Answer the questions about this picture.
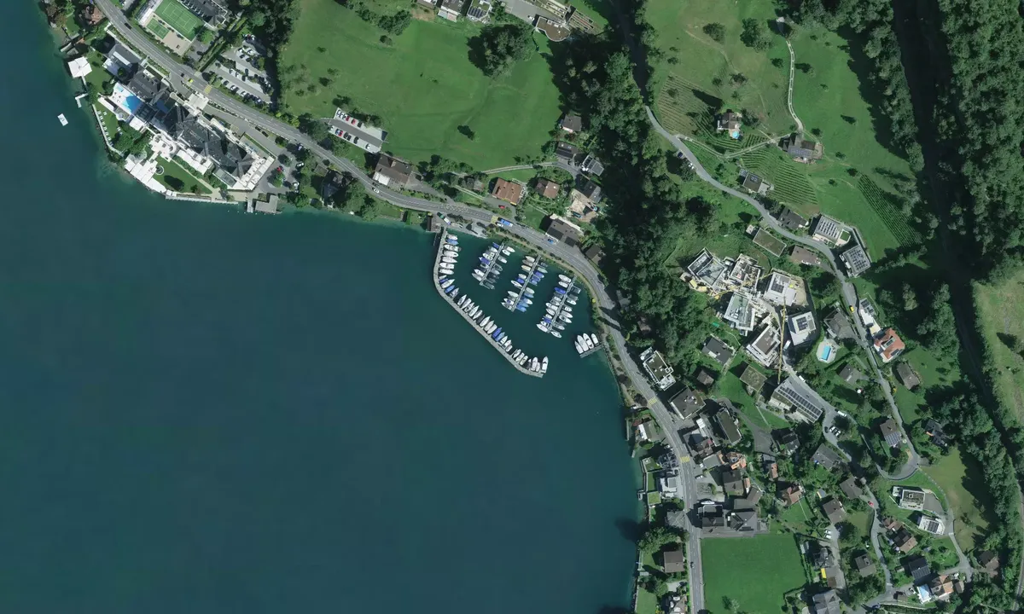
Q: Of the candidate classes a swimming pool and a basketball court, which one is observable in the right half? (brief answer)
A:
swimming pool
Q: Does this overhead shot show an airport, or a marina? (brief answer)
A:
marina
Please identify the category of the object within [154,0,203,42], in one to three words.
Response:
tennis court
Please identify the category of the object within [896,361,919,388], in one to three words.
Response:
house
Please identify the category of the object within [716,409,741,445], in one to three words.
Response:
building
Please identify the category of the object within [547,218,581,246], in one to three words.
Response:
house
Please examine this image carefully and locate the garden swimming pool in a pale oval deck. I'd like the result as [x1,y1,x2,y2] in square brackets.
[816,340,837,363]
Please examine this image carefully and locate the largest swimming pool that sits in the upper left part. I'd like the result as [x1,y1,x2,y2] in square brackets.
[122,94,144,113]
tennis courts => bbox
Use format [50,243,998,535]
[147,18,169,39]
[154,0,203,42]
